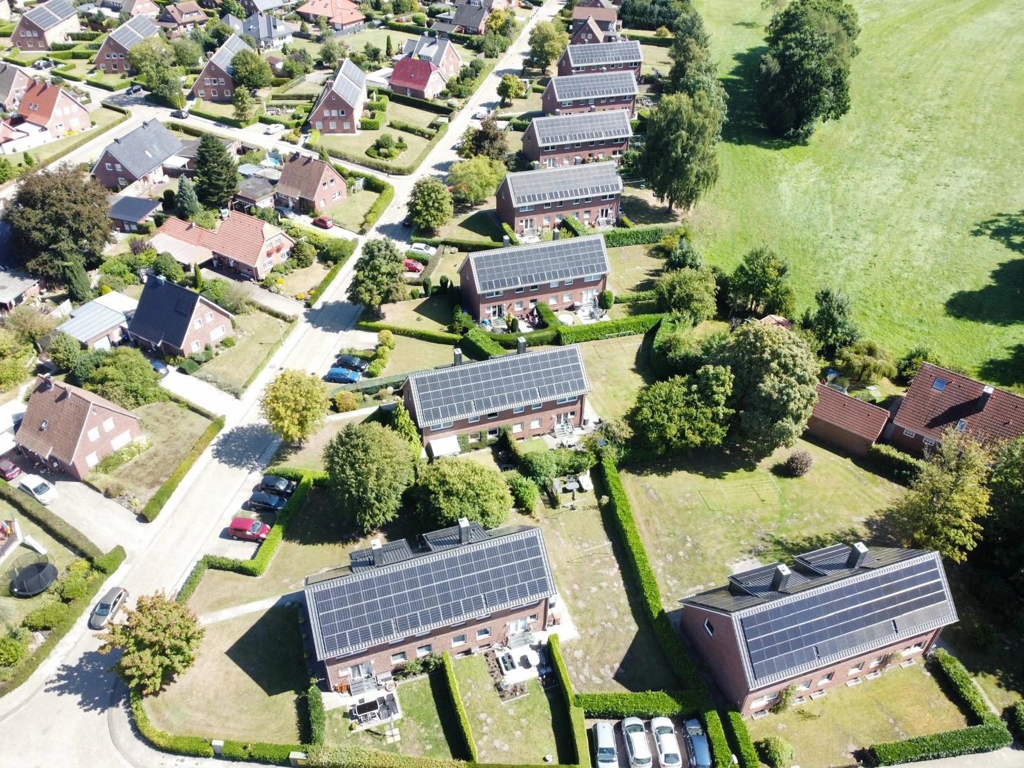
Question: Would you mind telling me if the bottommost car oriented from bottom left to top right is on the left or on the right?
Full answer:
The bottommost car oriented from bottom left to top right sits on the left side.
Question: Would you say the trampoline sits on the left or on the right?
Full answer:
The trampoline sits on the left side.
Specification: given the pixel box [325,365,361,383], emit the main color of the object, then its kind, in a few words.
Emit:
blue car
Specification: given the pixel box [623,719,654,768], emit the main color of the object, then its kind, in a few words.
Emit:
white car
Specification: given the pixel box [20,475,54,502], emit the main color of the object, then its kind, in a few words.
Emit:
white car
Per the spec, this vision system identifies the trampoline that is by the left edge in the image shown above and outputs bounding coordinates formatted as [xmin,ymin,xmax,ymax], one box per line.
[0,553,57,603]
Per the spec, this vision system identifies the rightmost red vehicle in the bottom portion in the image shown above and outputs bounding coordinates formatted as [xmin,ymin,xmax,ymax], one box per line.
[228,519,271,541]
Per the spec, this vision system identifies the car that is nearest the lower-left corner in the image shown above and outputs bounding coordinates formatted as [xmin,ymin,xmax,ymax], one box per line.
[89,585,129,627]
